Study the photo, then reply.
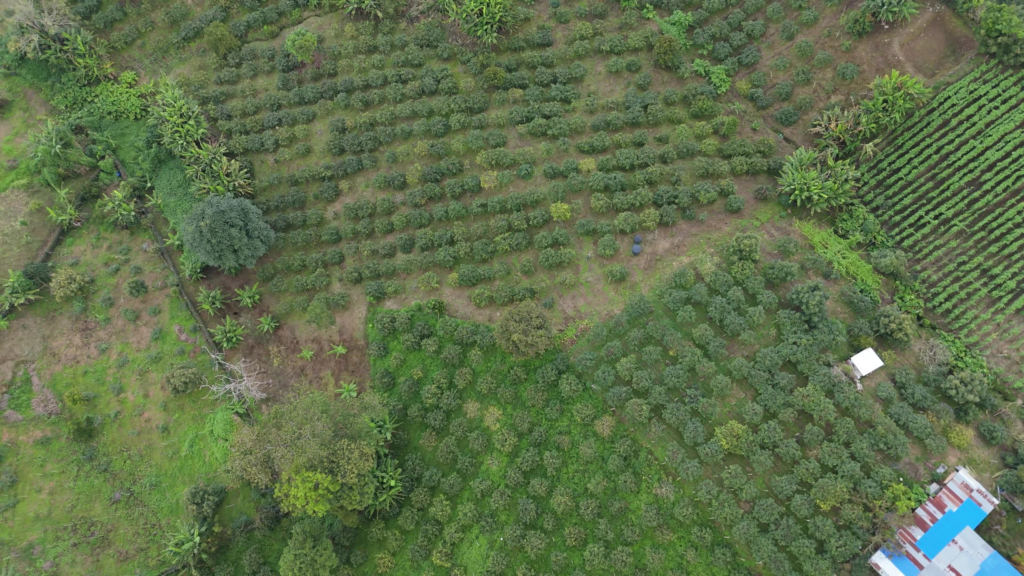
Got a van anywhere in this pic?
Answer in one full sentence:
No, the scene contains no van.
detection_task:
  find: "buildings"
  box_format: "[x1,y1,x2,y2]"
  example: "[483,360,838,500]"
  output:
[845,347,884,380]
[865,468,1022,576]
